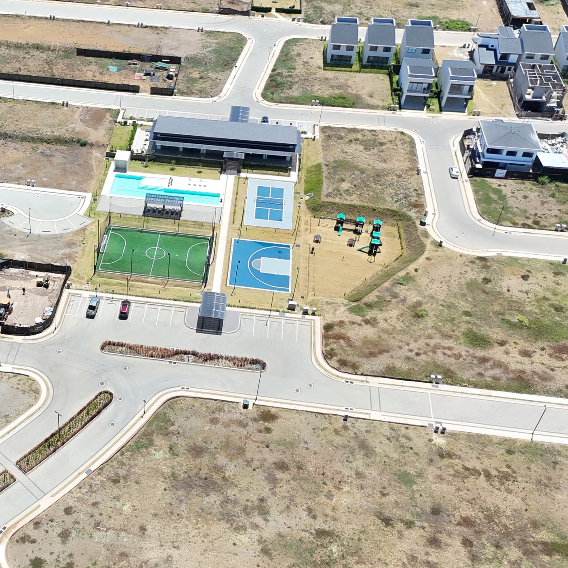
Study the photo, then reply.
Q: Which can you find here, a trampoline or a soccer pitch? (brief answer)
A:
soccer pitch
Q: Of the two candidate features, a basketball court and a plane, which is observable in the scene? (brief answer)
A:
basketball court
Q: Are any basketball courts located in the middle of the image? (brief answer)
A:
Yes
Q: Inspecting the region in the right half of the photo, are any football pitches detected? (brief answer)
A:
No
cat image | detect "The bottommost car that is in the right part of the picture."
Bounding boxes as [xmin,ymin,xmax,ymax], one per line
[449,167,461,179]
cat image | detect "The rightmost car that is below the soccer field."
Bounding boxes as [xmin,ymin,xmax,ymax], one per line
[118,301,130,319]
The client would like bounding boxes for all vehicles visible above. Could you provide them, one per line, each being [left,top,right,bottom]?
[0,299,15,329]
[261,115,269,124]
[118,301,130,319]
[33,271,53,288]
[449,167,461,179]
[85,298,98,318]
